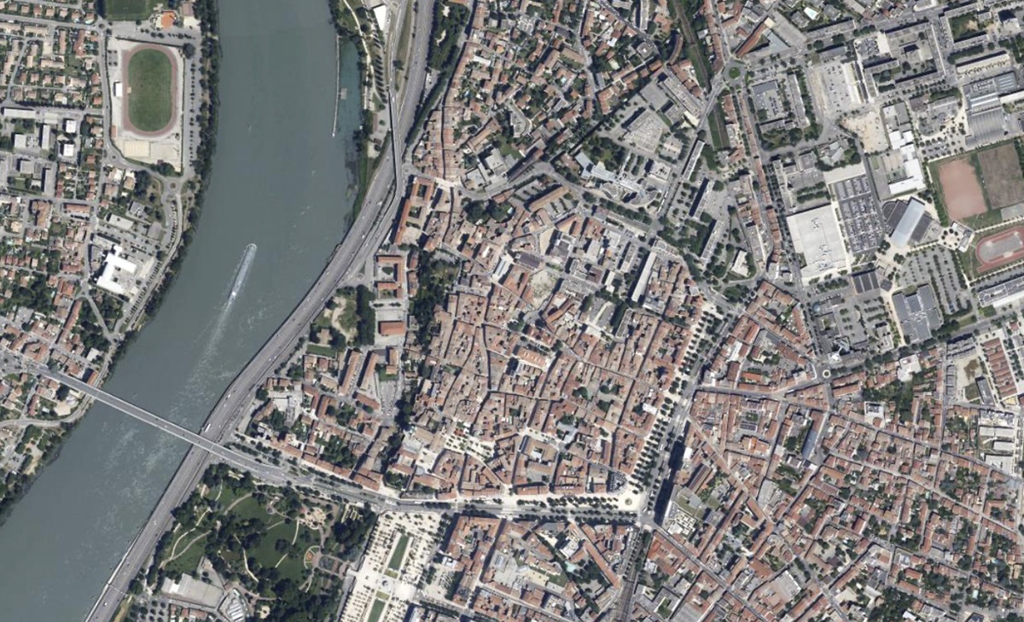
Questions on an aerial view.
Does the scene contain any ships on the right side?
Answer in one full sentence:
No, on the right side there is no ship.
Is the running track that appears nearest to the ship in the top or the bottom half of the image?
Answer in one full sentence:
Seen from above, the running track that appears nearest to the ship lies in the top half of the view.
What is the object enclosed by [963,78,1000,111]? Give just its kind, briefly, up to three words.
building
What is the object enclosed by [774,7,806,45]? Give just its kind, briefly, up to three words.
building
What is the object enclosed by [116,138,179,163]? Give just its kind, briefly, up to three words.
sports court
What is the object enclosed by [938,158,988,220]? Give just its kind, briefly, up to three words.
sports field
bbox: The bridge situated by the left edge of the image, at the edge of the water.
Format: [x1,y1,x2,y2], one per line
[36,363,296,482]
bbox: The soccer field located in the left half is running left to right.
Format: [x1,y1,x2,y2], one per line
[105,0,151,20]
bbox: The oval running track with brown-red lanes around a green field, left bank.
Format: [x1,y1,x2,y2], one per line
[111,38,183,143]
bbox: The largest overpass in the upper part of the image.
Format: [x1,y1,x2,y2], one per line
[352,82,403,271]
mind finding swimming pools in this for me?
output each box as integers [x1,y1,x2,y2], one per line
[804,7,818,19]
[564,562,576,572]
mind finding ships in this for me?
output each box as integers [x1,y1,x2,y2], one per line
[229,246,253,300]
